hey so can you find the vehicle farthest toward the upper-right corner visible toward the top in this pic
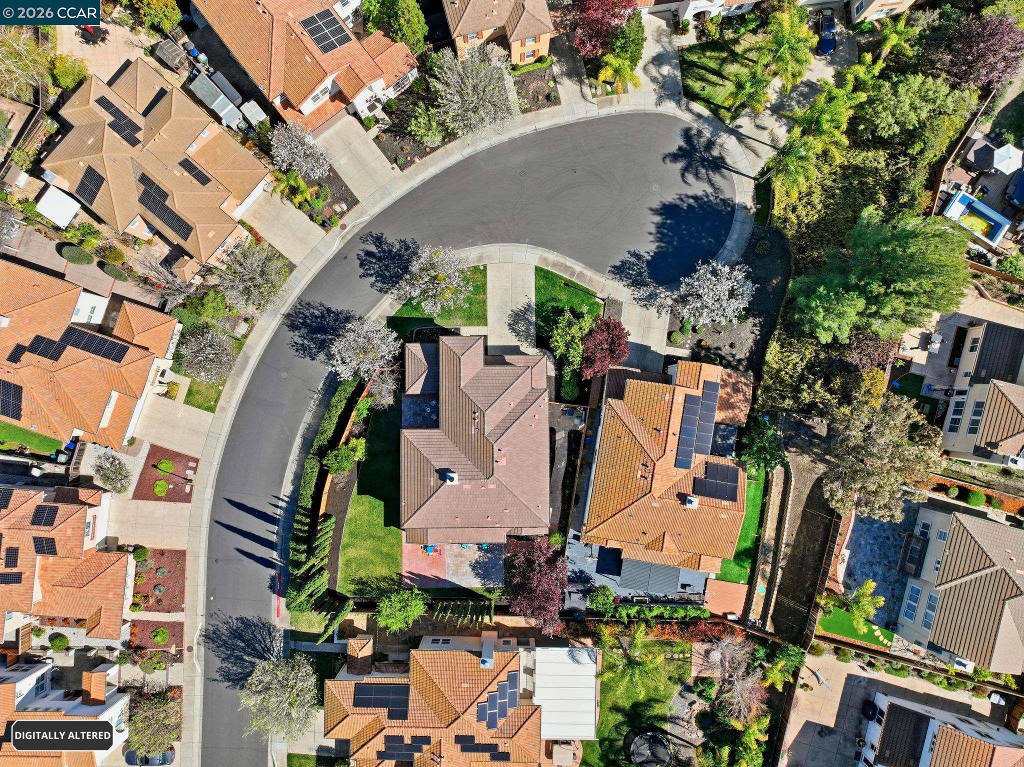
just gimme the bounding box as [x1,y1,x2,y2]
[815,7,840,57]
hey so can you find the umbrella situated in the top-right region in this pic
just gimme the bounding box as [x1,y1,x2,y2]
[986,145,1019,176]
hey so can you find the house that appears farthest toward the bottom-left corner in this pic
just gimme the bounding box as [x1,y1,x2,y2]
[0,659,131,767]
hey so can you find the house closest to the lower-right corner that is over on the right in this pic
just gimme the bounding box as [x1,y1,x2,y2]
[856,692,1024,767]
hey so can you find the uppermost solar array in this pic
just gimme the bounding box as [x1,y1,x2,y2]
[300,7,352,53]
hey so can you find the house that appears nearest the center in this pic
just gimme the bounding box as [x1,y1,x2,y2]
[400,334,551,544]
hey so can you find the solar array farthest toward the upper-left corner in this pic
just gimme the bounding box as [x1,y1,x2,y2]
[94,94,142,146]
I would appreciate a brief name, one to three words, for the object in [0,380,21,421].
solar array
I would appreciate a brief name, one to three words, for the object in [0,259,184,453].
house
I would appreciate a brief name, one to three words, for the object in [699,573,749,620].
gazebo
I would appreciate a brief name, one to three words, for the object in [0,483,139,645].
house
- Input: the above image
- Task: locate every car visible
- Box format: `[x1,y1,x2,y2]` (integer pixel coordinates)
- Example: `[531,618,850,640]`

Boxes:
[815,7,840,57]
[127,743,175,767]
